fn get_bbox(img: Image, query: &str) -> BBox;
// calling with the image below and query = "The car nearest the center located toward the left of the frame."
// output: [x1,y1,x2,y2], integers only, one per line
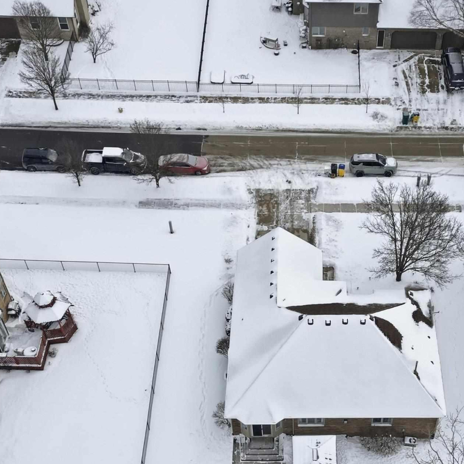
[157,150,209,174]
